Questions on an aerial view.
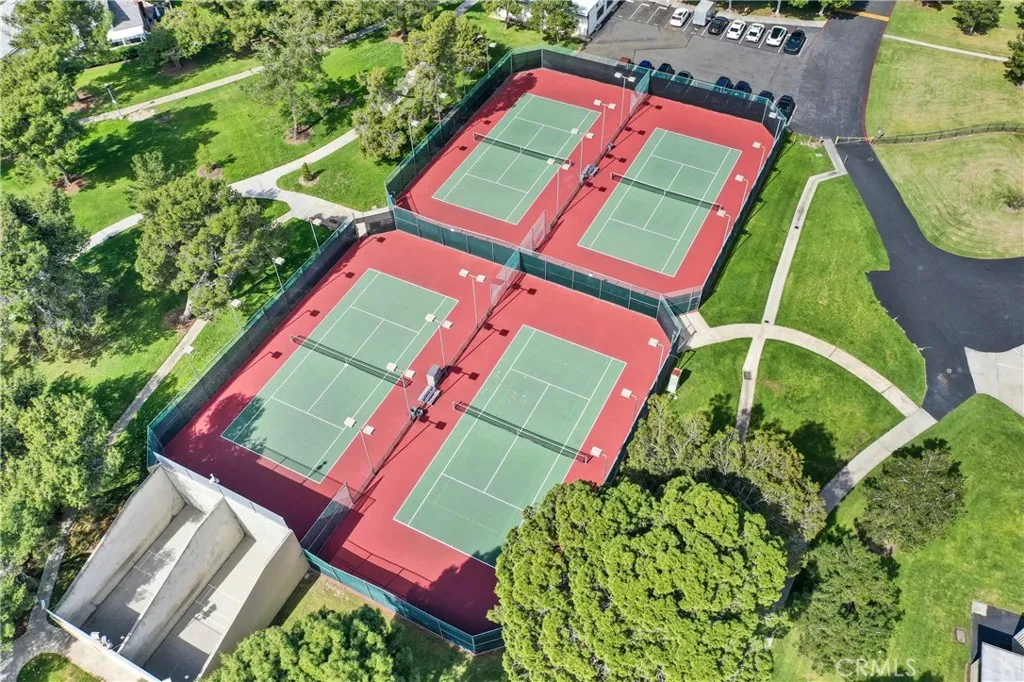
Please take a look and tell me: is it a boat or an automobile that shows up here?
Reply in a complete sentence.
There is an automobile in the scene.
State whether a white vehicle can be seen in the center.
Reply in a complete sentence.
No, I see no white vehicle in the center.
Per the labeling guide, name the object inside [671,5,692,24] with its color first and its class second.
white car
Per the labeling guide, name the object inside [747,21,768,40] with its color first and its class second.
white car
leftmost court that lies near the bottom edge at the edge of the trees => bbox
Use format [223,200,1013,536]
[44,452,309,682]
